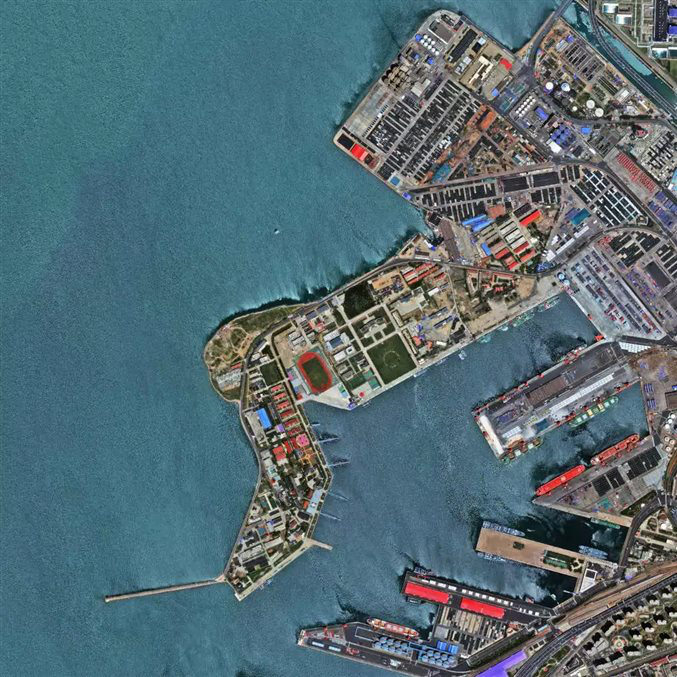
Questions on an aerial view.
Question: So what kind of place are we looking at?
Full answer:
The area seen from above is a port.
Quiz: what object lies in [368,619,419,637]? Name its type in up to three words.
ship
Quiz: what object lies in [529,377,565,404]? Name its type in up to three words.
building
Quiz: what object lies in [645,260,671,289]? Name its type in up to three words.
building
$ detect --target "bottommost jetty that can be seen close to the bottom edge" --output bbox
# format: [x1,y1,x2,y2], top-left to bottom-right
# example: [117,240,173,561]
[298,623,432,677]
